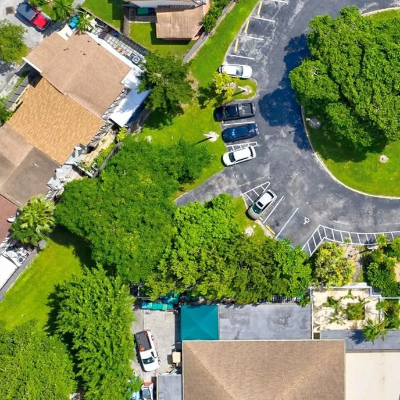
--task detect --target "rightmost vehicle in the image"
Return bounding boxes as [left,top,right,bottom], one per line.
[251,187,277,221]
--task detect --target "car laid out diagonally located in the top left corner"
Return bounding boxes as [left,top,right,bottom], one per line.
[14,1,51,30]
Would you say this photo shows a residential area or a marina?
residential area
